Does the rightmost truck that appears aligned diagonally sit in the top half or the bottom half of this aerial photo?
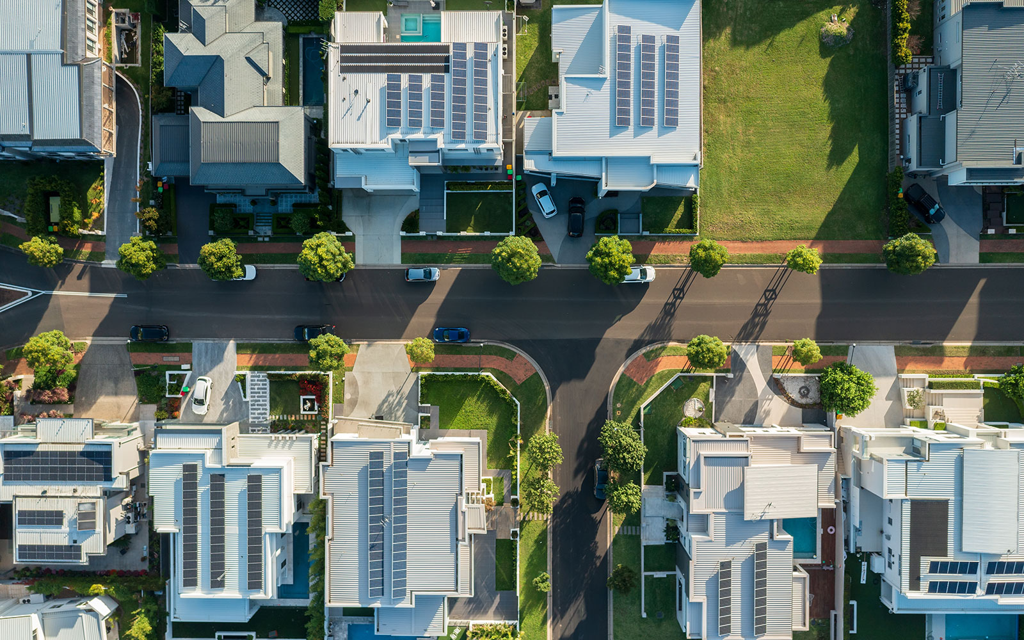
top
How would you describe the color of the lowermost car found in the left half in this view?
white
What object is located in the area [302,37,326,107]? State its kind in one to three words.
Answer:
swimming pool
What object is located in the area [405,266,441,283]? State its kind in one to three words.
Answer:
car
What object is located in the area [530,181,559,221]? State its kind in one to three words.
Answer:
car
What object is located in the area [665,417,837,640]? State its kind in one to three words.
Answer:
house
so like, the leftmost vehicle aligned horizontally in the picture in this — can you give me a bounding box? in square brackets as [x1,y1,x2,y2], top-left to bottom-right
[130,325,171,341]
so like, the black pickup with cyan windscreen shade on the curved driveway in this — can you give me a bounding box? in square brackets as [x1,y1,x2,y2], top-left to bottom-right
[903,181,948,224]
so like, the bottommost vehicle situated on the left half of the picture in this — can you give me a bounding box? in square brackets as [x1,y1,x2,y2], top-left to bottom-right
[191,375,214,416]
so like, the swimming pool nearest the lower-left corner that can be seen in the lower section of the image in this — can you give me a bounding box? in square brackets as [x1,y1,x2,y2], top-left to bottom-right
[276,519,311,600]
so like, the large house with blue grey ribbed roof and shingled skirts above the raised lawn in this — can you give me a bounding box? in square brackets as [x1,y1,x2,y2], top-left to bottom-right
[0,0,127,161]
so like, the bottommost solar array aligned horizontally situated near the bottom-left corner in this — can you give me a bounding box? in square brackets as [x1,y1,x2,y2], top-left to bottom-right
[17,544,81,560]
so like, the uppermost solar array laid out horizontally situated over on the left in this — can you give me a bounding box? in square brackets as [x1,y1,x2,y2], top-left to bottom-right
[2,450,112,481]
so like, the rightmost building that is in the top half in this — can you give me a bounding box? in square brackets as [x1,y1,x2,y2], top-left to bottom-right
[900,0,1024,185]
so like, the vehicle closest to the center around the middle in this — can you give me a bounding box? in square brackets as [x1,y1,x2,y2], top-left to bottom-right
[433,327,471,344]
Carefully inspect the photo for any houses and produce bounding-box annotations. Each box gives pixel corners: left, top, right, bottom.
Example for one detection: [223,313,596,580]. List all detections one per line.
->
[328,10,512,193]
[150,414,322,623]
[900,0,1024,185]
[665,417,837,640]
[0,416,150,564]
[151,0,315,227]
[0,592,126,640]
[0,0,127,161]
[320,416,487,636]
[524,0,702,194]
[841,419,1024,614]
